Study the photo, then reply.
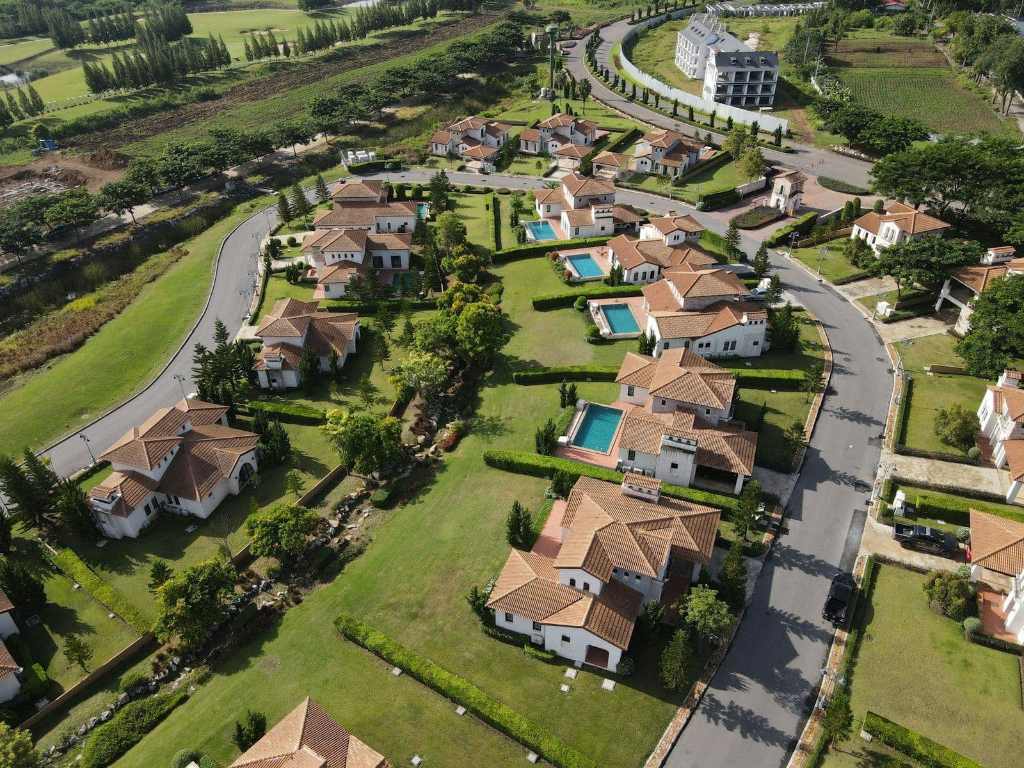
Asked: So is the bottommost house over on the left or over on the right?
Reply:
left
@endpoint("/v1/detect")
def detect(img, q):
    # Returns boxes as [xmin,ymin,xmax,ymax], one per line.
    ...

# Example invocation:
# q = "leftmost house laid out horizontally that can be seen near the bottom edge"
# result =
[223,694,396,768]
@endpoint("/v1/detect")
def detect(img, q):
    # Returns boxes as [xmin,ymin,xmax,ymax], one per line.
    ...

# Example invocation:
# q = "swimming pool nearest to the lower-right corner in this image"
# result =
[555,391,626,454]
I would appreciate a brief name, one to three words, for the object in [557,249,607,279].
swimming pool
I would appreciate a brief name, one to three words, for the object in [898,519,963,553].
truck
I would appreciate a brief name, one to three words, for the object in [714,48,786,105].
building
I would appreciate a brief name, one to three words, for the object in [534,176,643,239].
house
